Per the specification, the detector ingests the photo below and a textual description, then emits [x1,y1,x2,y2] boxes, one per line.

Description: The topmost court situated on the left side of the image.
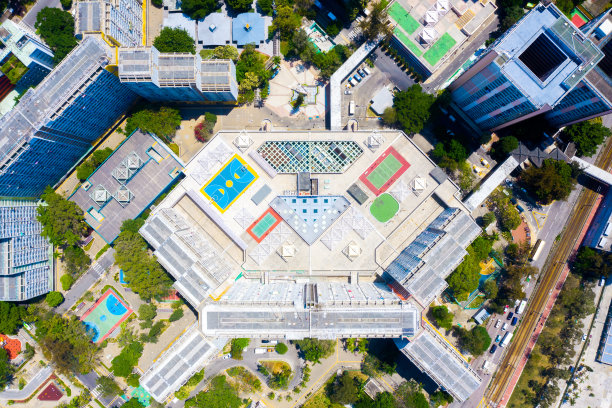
[200,154,259,213]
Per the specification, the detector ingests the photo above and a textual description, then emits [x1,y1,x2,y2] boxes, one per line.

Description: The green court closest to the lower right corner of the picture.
[371,194,397,222]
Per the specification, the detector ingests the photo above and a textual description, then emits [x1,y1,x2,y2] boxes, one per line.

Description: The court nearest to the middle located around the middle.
[247,207,283,243]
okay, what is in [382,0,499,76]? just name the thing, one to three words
building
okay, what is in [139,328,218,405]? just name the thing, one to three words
building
